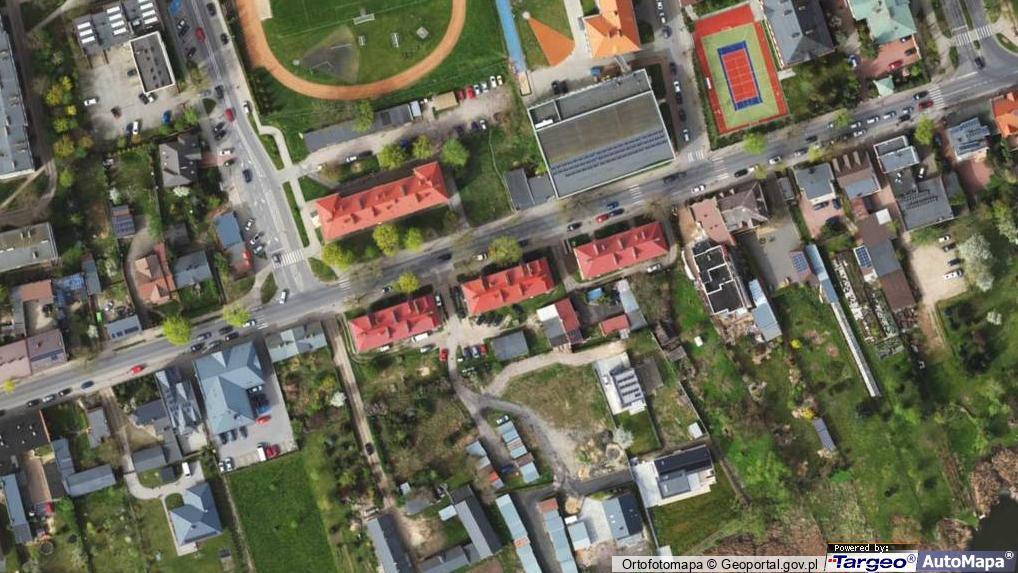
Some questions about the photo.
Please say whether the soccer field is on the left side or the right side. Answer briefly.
left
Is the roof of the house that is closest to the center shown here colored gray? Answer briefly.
No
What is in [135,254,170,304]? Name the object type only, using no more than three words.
house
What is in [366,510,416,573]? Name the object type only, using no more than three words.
barn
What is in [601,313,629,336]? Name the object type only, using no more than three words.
shed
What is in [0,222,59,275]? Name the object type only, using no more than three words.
building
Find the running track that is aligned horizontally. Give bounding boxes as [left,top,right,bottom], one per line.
[236,0,467,99]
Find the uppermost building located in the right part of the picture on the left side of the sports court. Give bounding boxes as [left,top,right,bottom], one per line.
[584,0,640,60]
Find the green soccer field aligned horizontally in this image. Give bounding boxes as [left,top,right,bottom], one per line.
[256,0,452,87]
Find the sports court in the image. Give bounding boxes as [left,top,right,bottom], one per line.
[697,4,788,134]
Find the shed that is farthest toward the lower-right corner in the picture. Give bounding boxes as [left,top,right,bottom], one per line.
[812,418,836,453]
